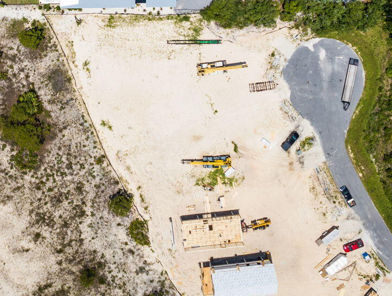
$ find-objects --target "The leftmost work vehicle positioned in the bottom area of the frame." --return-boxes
[241,219,268,232]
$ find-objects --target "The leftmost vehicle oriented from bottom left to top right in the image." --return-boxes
[280,131,300,151]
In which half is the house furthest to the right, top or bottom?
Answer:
bottom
